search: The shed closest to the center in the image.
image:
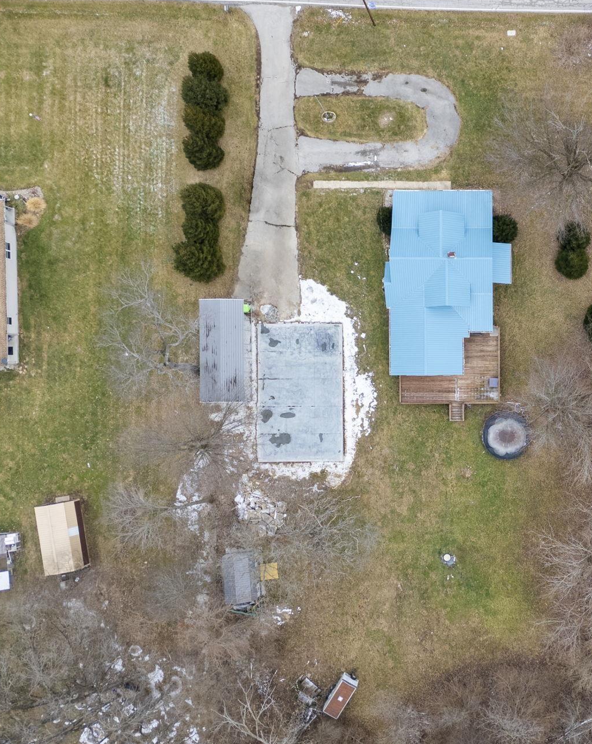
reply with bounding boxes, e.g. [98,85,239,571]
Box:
[199,298,252,403]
